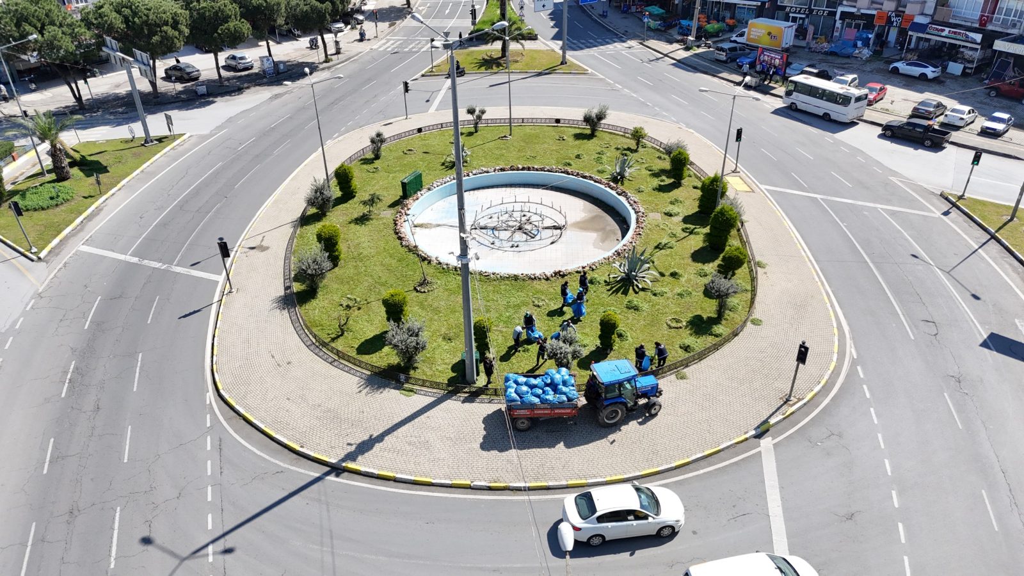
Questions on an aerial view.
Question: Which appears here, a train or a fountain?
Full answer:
I can see a fountain in this picture.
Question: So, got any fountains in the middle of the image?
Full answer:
Yes, there is a fountain in the middle of the image.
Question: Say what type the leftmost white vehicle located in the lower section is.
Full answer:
Looking closely, the leftmost white vehicle located in the lower section is an automobile.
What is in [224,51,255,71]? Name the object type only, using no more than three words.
car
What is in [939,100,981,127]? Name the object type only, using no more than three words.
car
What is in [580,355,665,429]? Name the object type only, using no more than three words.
work vehicle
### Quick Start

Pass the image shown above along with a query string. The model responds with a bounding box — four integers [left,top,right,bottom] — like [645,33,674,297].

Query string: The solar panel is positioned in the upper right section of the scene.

[989,53,1024,87]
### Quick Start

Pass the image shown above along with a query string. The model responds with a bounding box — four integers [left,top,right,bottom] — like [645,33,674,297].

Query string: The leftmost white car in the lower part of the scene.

[560,478,690,545]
